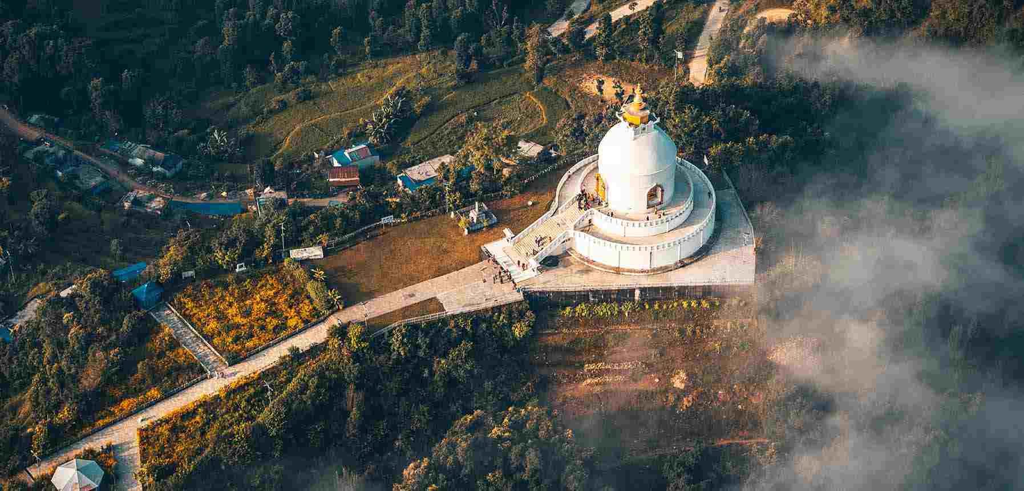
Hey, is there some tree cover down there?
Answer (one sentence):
Yes, tree cover can be seen from above here.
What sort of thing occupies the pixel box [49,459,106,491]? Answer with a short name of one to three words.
gazebo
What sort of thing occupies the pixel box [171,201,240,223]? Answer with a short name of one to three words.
shed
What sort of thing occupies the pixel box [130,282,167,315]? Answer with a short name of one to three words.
building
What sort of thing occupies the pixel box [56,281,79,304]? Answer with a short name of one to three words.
shed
